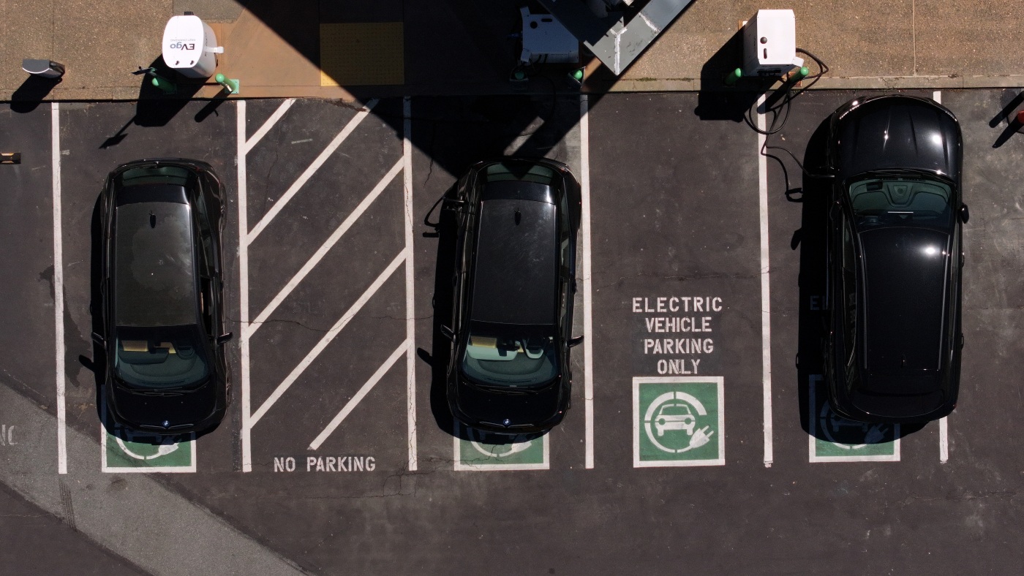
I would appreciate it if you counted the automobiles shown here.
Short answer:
3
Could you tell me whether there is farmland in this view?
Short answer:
No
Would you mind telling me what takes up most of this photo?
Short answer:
paved ground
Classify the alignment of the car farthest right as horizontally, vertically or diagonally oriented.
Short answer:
vertically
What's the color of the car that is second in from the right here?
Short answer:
black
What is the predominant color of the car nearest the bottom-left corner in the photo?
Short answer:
black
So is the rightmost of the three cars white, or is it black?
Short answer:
black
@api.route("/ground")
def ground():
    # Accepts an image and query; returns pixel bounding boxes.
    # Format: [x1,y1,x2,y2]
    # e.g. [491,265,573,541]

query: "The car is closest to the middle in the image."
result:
[440,158,583,434]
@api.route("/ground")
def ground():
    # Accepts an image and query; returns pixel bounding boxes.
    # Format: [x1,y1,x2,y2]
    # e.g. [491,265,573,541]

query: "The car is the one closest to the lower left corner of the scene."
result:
[92,160,235,435]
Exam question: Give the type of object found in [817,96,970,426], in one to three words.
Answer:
car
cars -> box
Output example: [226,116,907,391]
[92,160,235,435]
[440,158,583,434]
[817,96,970,426]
